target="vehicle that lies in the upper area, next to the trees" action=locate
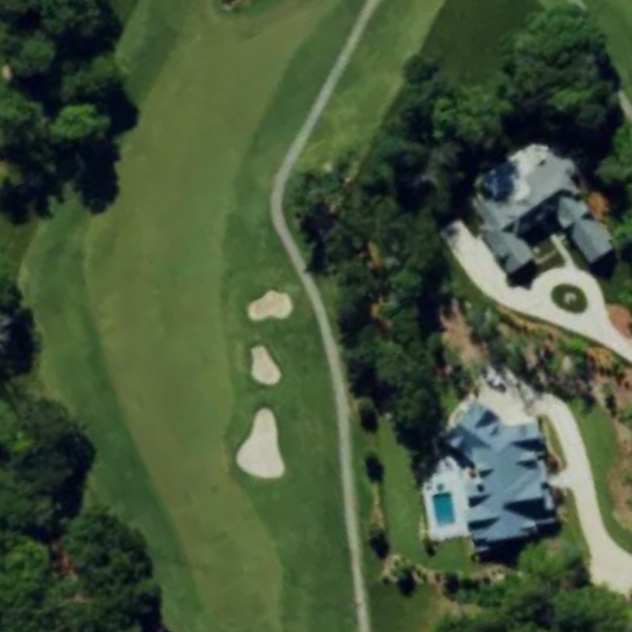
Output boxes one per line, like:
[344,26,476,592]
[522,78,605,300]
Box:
[442,227,459,240]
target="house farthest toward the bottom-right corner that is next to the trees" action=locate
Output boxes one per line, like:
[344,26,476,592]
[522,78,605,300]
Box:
[442,397,562,553]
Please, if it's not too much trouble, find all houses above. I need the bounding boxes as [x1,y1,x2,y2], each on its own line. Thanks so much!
[442,397,562,553]
[467,147,619,270]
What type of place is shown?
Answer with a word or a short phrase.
golf course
